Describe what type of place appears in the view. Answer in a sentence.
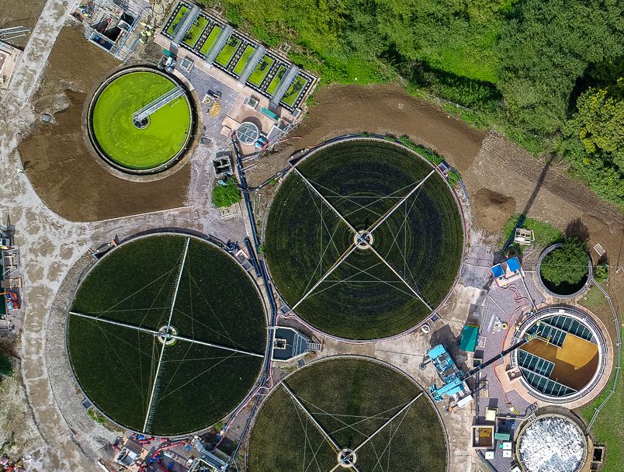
What you see here is an industrial area.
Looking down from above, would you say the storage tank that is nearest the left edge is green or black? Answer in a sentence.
In this view, the storage tank that is nearest the left edge is green.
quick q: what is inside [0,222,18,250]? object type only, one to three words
work vehicle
